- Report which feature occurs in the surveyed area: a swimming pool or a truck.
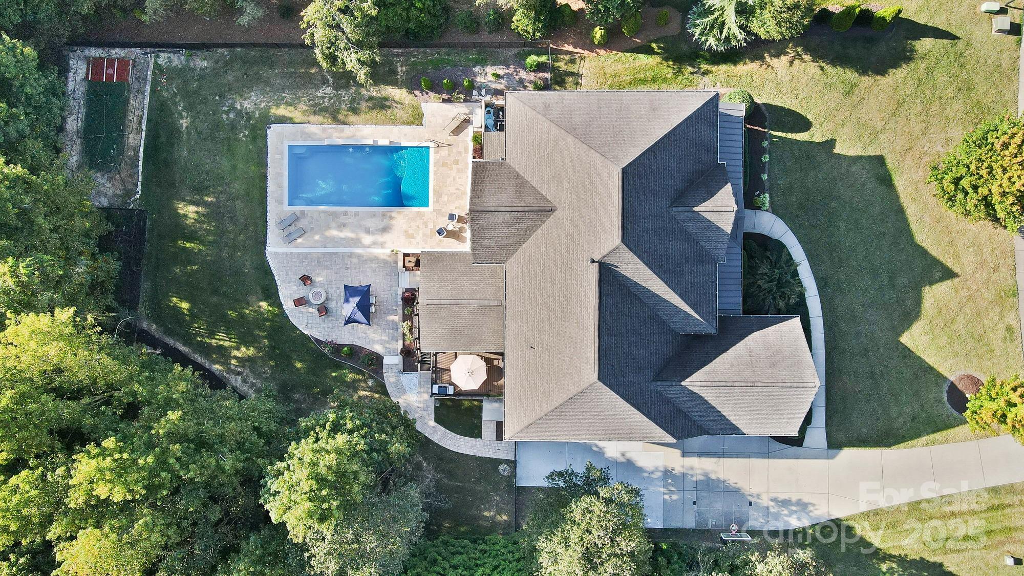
swimming pool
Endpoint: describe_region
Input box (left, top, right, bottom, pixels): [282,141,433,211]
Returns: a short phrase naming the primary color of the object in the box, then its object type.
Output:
blue swimming pool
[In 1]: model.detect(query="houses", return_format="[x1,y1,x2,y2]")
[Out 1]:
[418,89,820,443]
